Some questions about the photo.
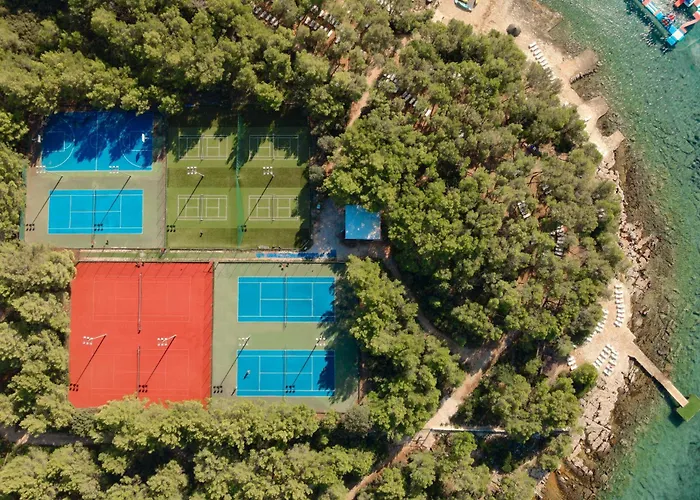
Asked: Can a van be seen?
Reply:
No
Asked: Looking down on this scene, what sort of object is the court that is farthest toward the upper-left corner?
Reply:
basketball court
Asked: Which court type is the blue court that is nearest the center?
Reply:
tennis court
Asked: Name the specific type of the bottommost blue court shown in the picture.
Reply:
tennis court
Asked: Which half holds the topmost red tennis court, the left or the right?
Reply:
left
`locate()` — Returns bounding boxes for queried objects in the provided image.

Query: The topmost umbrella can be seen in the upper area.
[507,18,523,34]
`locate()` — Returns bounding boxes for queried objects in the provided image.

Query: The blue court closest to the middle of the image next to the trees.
[239,274,334,326]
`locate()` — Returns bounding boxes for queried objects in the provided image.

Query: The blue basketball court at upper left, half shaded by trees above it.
[42,112,152,171]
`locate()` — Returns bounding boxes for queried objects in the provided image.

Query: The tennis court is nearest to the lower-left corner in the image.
[94,347,188,395]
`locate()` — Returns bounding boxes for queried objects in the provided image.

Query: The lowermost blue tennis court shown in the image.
[239,349,334,400]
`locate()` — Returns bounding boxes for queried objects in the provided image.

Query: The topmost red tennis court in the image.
[95,274,189,326]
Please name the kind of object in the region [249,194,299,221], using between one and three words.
sports court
